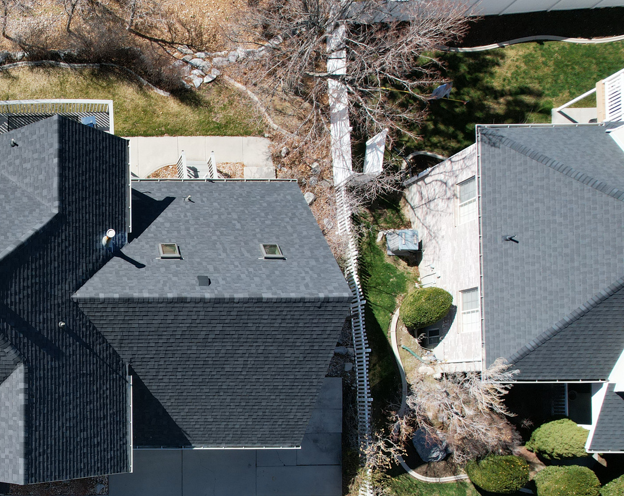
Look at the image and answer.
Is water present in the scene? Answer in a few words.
No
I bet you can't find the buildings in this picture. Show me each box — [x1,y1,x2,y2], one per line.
[0,119,347,496]
[405,105,624,455]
